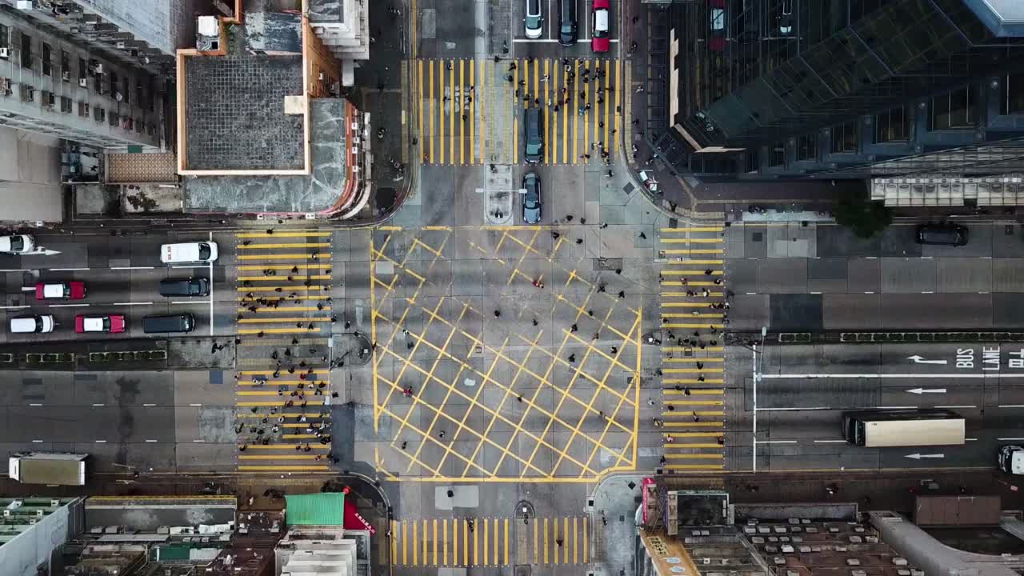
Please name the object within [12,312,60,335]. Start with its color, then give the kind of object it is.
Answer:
white car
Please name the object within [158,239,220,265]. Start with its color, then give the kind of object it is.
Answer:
white vehicle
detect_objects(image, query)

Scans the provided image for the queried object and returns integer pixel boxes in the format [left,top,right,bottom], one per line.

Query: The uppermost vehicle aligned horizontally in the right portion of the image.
[838,411,966,446]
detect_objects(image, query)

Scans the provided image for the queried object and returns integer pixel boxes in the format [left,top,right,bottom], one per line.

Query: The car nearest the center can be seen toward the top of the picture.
[519,171,544,224]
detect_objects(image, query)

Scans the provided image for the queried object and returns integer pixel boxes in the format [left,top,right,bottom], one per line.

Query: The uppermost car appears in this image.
[588,0,612,54]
